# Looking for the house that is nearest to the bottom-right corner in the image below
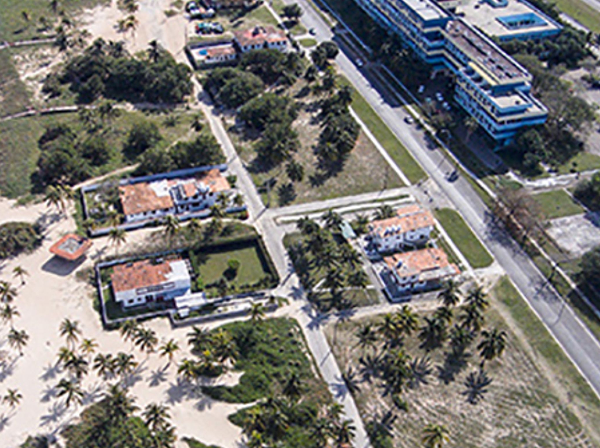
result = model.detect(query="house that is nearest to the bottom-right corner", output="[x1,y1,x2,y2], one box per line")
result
[379,251,467,297]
